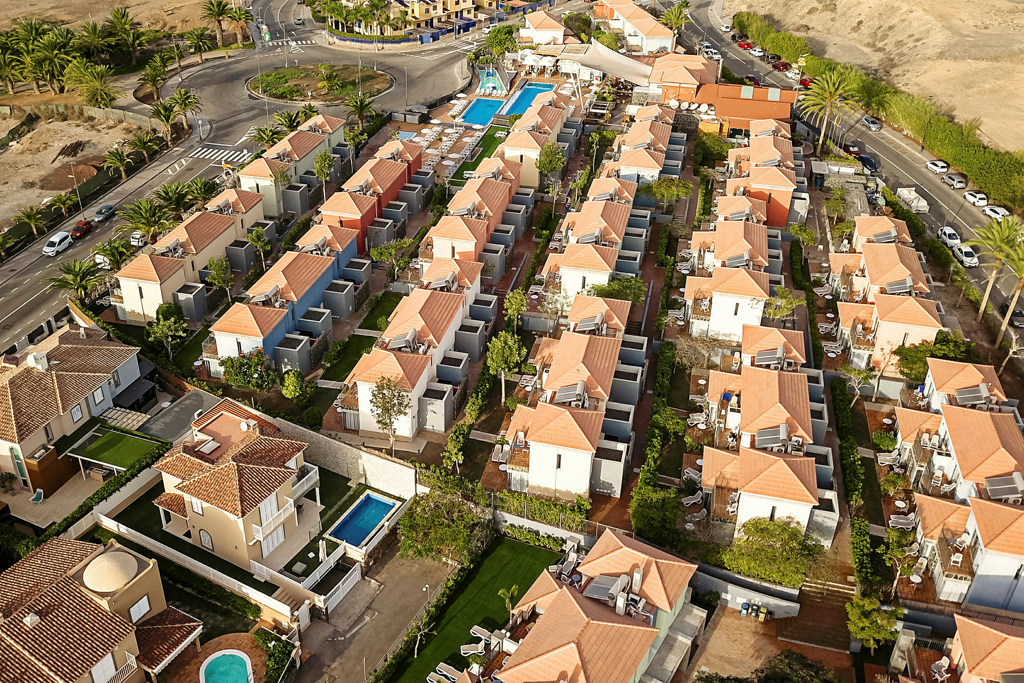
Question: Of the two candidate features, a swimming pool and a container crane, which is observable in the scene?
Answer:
swimming pool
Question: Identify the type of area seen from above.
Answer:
residential area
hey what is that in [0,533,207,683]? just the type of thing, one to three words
house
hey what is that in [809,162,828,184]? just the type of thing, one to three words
shed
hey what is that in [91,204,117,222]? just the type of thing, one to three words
car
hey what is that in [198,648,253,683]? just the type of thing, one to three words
swimming pool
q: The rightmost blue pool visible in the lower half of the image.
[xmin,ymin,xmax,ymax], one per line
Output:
[325,490,399,551]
